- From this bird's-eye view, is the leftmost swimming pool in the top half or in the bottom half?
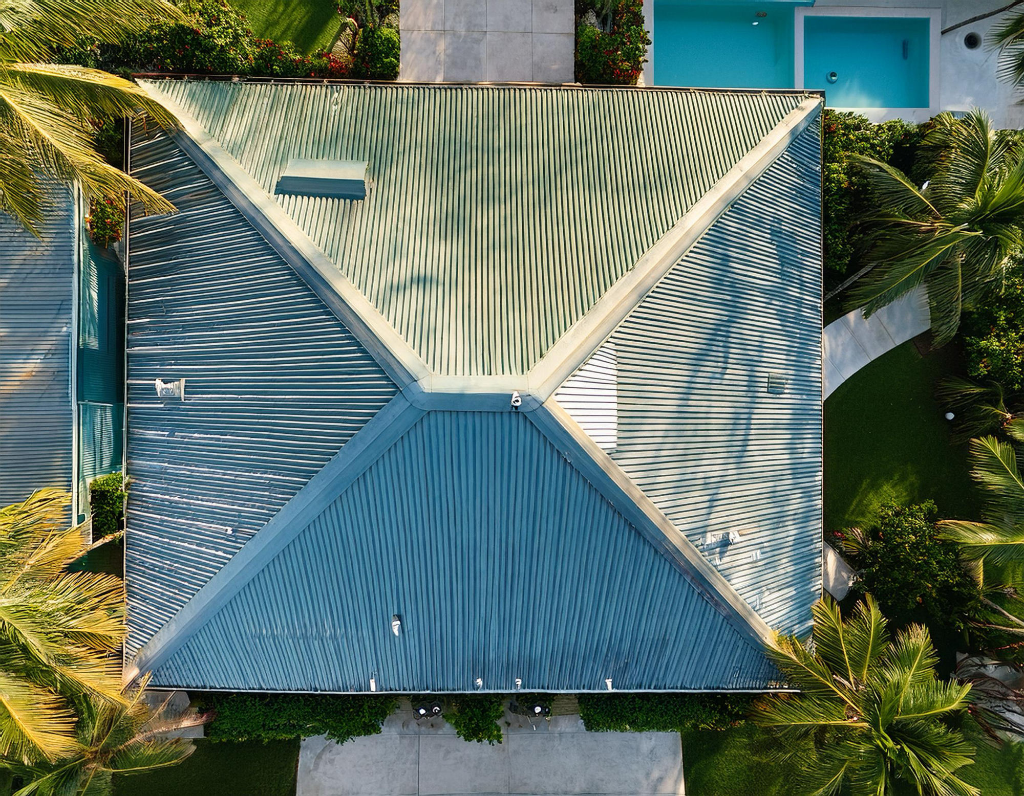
top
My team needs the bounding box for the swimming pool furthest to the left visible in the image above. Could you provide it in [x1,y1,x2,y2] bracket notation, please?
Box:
[646,0,800,88]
